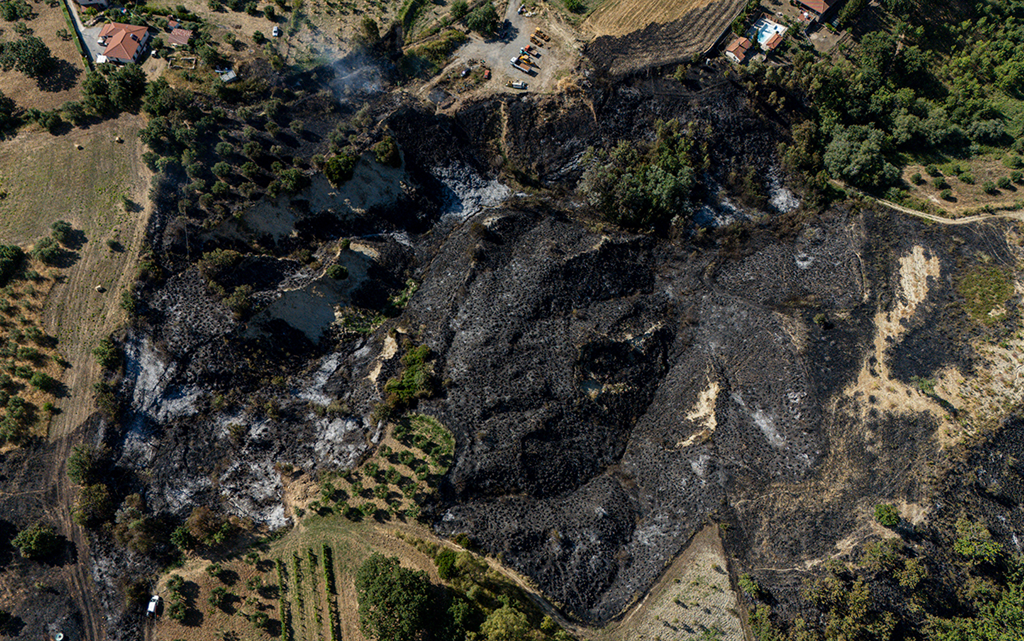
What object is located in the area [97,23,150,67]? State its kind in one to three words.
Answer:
house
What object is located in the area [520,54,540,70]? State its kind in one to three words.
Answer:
work vehicle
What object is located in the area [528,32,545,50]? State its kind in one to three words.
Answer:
vehicle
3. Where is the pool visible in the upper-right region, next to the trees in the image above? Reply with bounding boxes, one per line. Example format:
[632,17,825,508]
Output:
[748,17,788,51]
